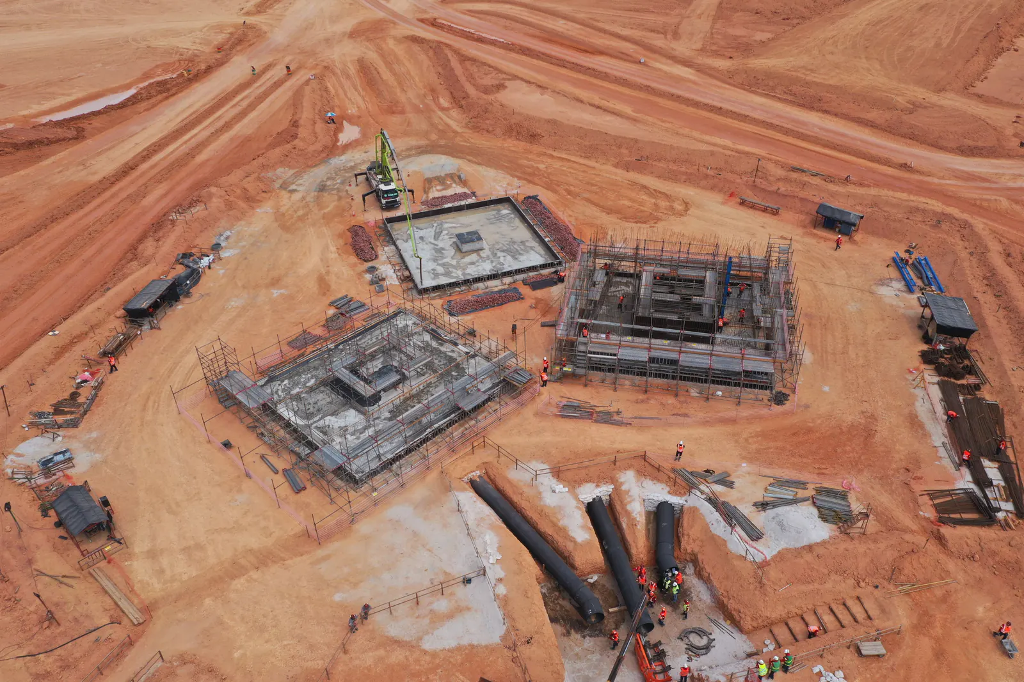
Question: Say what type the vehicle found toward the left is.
truck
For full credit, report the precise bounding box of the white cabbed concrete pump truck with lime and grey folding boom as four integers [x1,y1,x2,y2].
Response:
[354,126,426,289]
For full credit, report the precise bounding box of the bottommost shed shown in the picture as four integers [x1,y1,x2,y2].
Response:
[51,486,118,558]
